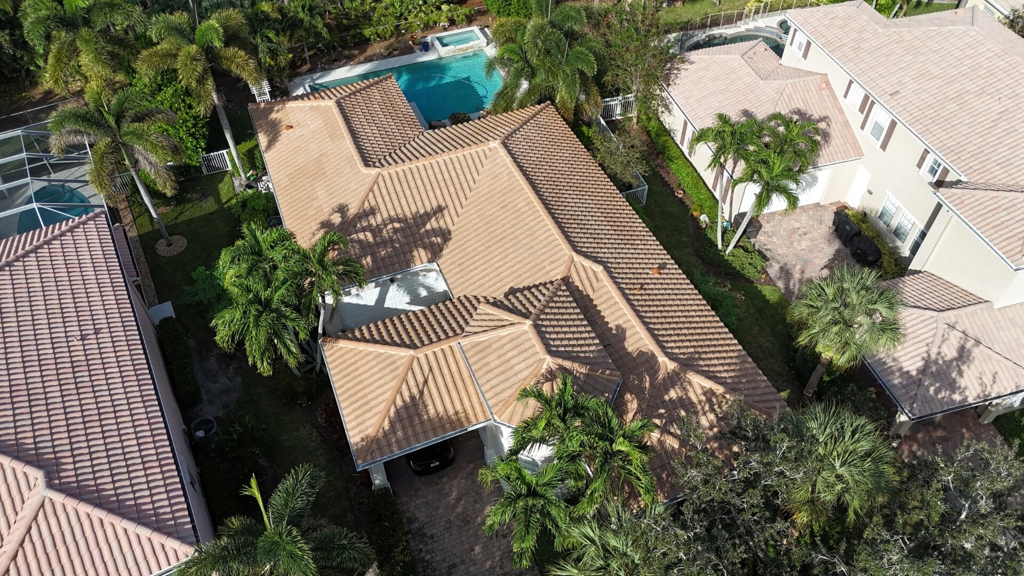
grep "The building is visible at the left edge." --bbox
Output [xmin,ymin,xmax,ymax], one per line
[0,206,222,576]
